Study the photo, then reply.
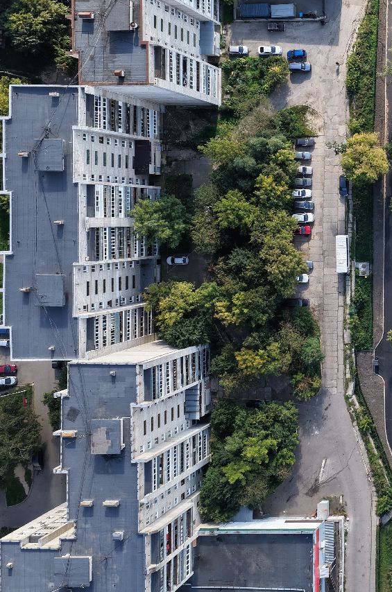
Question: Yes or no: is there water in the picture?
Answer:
No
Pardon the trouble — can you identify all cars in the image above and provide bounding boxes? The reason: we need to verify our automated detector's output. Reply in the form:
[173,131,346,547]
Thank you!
[292,226,314,235]
[293,188,315,198]
[0,338,11,348]
[294,149,314,160]
[293,201,316,210]
[292,176,314,187]
[0,364,19,373]
[227,44,249,54]
[0,326,11,337]
[295,165,315,175]
[301,260,315,269]
[167,255,190,266]
[258,44,282,55]
[294,136,317,147]
[338,176,349,196]
[289,273,310,282]
[293,212,315,223]
[287,47,307,58]
[289,62,312,71]
[0,376,19,384]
